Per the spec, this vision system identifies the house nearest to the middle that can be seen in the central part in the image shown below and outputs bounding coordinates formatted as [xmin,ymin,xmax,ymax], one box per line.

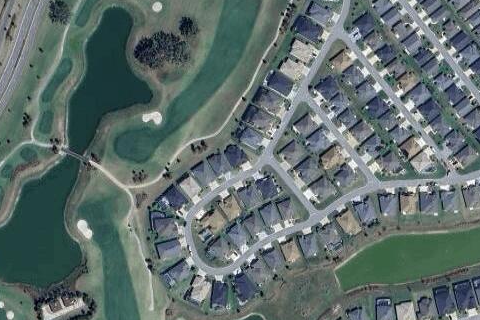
[222,142,245,169]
